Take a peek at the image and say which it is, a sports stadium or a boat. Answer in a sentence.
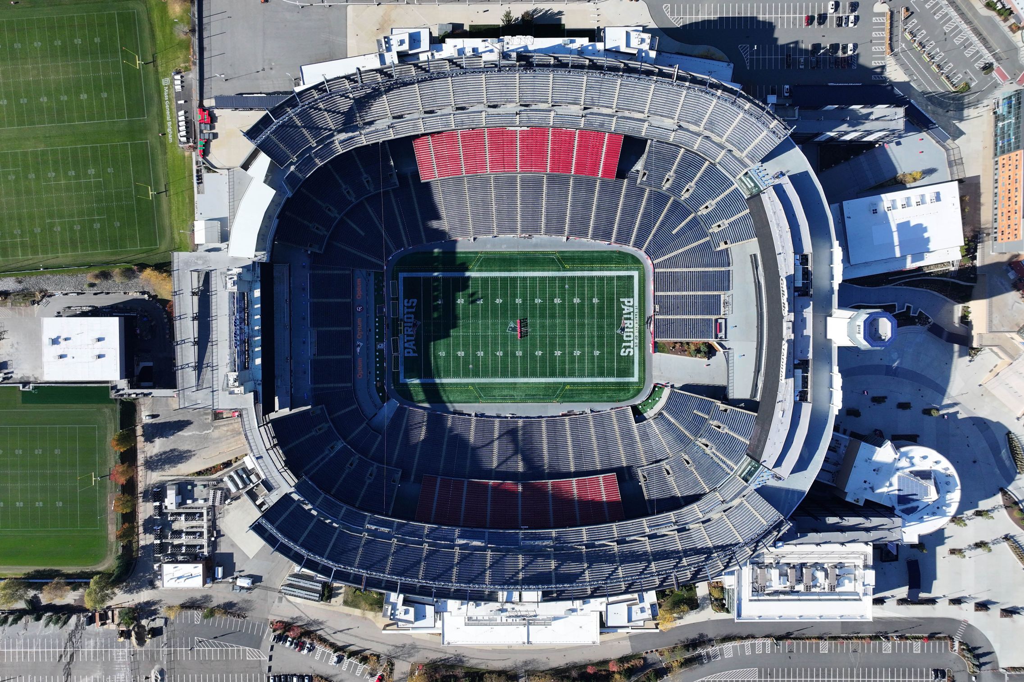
I can see a sports stadium in this picture.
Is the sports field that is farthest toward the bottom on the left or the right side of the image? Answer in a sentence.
The sports field that is farthest toward the bottom sits on the left side.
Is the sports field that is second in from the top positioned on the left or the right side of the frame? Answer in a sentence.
The sports field that is second in from the top sits on the left side.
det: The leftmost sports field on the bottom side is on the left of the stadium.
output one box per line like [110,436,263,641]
[0,409,98,530]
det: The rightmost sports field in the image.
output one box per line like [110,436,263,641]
[384,235,655,421]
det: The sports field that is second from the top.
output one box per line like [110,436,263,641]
[0,141,159,259]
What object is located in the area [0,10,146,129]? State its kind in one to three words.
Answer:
sports field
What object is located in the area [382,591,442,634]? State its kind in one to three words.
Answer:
building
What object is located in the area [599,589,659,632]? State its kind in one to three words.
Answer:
building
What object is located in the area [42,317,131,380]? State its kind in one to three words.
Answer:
shed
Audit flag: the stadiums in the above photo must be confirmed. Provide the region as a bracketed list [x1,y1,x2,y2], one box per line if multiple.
[225,40,841,608]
